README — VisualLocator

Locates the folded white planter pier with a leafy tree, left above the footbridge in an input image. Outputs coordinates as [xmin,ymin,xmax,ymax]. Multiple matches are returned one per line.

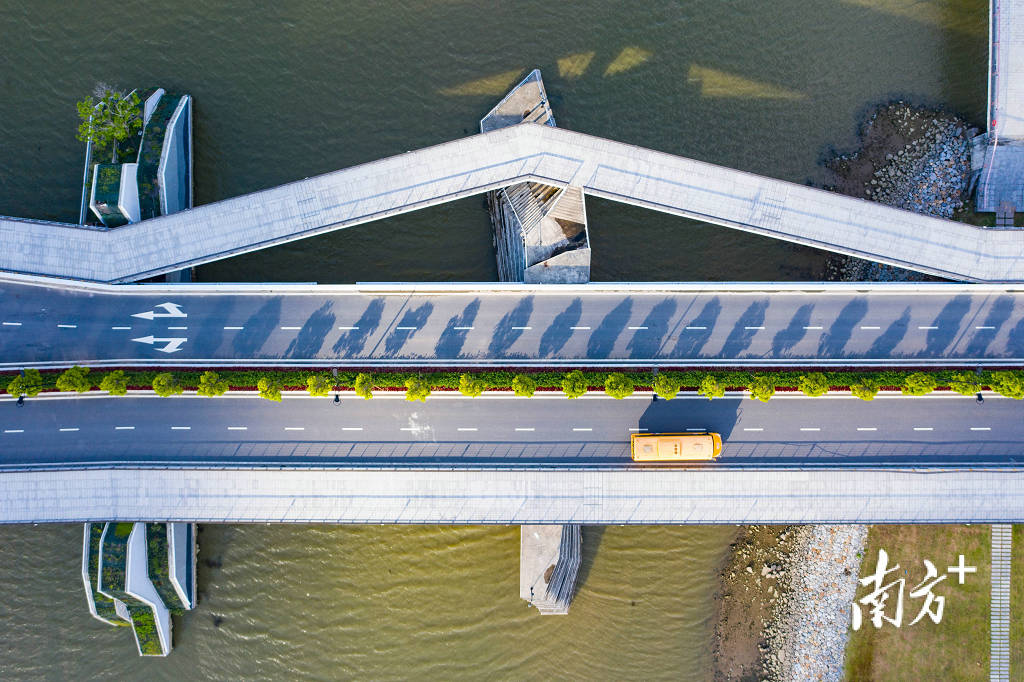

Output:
[81,89,195,226]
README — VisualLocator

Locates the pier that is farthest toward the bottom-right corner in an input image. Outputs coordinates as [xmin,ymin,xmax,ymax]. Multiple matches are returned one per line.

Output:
[519,524,583,614]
